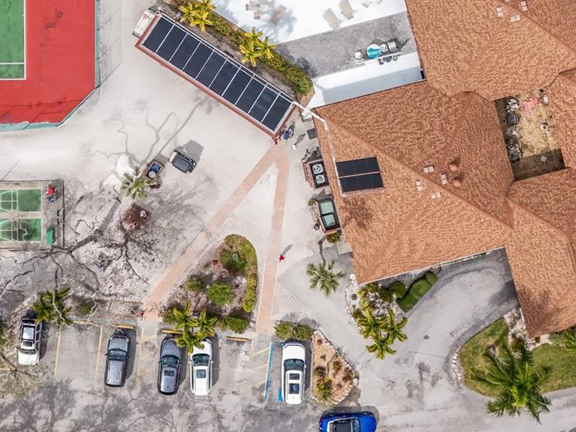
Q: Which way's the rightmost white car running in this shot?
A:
vertically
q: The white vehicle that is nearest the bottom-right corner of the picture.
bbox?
[280,341,308,406]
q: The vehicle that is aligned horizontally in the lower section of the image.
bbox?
[318,409,375,432]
